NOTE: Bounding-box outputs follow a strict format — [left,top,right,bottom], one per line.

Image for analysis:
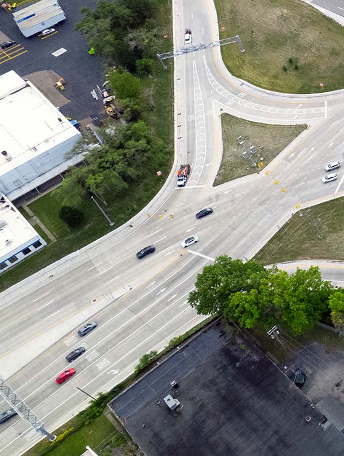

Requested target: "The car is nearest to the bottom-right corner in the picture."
[181,235,200,248]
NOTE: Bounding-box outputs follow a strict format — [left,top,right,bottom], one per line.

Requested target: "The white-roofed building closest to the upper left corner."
[0,69,100,209]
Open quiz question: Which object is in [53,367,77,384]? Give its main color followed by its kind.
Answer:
red car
